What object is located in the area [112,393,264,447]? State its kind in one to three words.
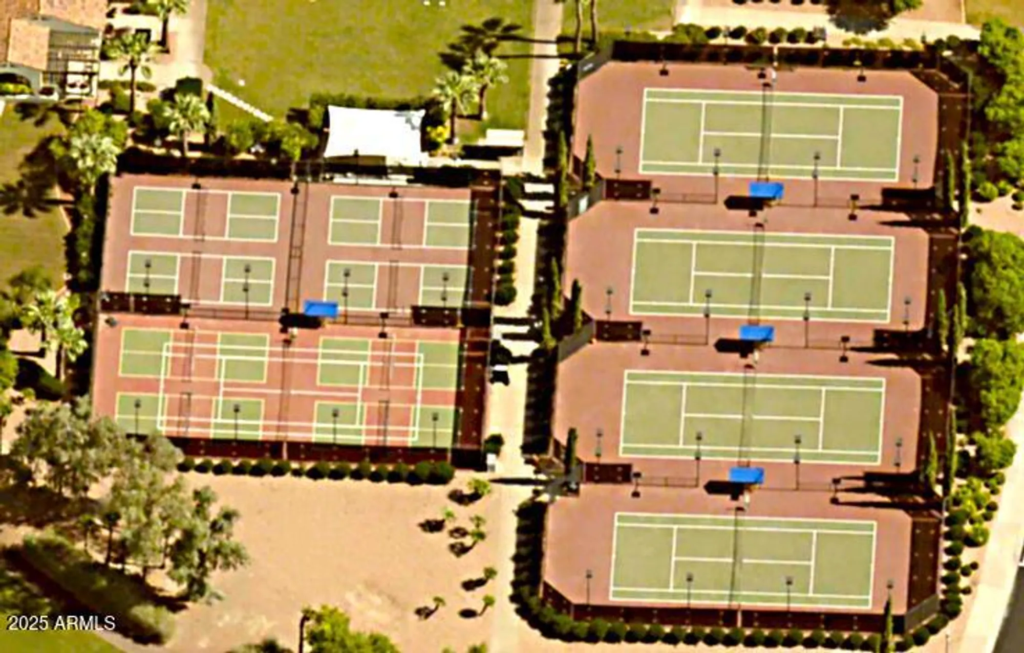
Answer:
sports court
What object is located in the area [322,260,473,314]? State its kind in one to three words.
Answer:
sports court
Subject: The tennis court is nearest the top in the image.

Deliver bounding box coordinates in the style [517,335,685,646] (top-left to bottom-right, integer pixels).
[572,59,969,210]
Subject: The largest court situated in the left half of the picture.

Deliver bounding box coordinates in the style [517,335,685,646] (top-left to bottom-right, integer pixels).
[89,313,490,470]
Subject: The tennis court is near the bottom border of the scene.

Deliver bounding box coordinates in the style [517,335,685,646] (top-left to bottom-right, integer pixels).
[541,483,944,638]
